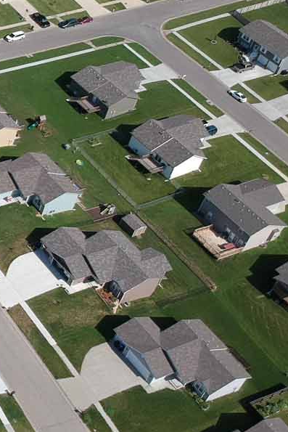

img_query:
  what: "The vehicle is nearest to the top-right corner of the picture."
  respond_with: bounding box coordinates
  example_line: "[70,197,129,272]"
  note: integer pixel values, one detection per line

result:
[232,59,255,73]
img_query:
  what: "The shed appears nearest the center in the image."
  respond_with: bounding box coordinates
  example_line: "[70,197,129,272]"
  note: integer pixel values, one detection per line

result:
[117,211,150,239]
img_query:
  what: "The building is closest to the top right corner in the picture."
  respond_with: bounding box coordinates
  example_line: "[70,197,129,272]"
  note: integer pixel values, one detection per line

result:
[227,15,288,78]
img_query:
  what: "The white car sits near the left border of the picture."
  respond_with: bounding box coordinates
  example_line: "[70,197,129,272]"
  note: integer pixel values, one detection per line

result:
[3,28,25,42]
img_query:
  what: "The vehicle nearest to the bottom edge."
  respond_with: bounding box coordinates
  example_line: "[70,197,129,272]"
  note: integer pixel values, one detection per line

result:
[202,124,223,136]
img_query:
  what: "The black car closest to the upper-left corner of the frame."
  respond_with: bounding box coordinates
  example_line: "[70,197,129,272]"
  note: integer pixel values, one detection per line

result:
[29,12,50,28]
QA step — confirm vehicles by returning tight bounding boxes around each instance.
[3,28,25,42]
[29,12,50,28]
[225,88,249,104]
[232,59,255,73]
[78,15,96,26]
[202,124,223,136]
[58,16,78,29]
